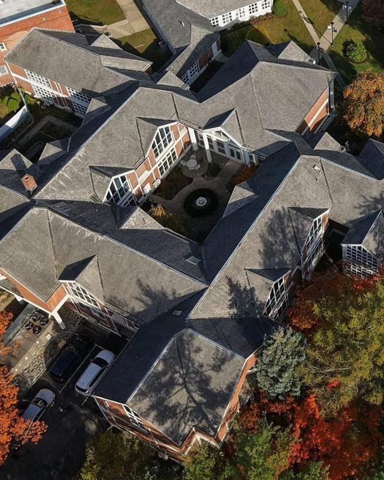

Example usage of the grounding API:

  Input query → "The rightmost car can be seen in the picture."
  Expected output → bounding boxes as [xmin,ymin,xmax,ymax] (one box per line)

[71,350,117,398]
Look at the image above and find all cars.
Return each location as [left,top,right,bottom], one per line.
[13,391,55,439]
[44,341,88,387]
[71,350,117,398]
